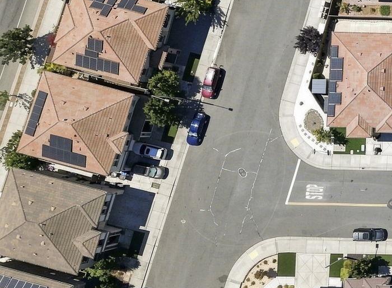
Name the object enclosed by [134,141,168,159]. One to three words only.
car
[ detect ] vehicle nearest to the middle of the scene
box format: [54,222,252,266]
[189,113,209,145]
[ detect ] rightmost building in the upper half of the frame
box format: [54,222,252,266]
[326,31,392,138]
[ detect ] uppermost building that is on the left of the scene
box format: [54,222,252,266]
[52,0,183,85]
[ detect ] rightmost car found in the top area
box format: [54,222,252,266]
[205,66,225,97]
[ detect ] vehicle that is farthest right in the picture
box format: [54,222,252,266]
[355,226,386,243]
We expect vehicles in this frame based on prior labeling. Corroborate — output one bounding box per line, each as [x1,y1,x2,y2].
[205,66,225,97]
[355,226,386,243]
[134,141,168,159]
[132,161,170,180]
[189,113,209,145]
